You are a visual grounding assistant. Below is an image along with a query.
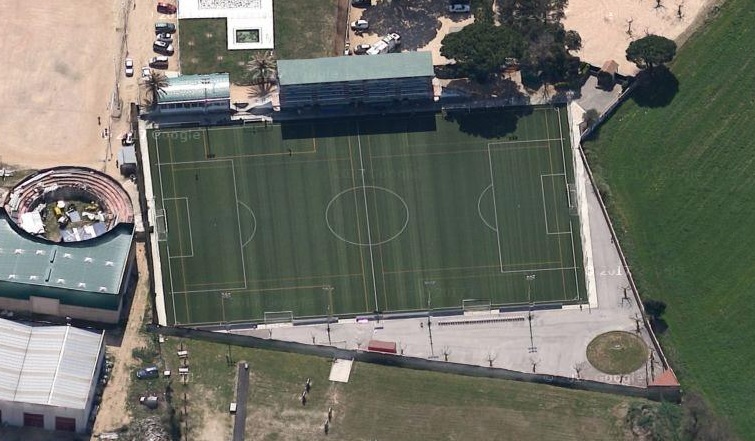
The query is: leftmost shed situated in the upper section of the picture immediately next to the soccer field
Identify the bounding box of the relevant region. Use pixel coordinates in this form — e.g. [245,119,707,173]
[118,145,137,173]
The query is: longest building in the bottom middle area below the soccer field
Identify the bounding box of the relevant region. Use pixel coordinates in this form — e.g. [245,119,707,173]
[369,337,397,354]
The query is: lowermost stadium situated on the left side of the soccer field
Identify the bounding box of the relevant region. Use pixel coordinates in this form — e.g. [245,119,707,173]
[3,166,135,241]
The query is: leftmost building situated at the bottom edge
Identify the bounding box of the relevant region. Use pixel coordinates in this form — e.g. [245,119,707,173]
[0,320,104,430]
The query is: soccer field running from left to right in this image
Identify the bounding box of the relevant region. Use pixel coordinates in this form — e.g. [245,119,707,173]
[147,107,588,327]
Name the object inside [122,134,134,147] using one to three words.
vehicle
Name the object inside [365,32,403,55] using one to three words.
truck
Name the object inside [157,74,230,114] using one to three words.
building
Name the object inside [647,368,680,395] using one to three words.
shed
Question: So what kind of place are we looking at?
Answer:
sports ground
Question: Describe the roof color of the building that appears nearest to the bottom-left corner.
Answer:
white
